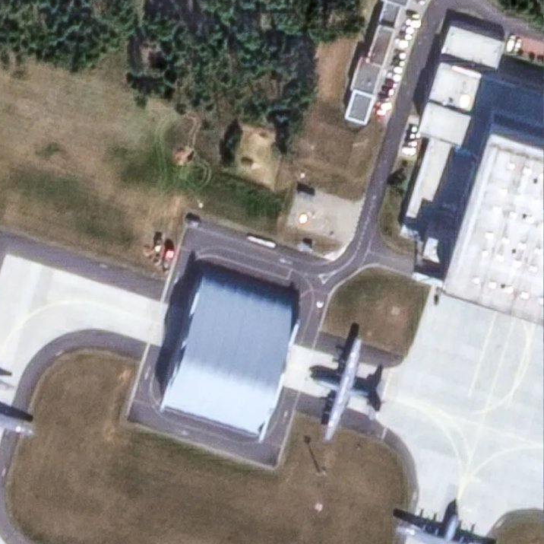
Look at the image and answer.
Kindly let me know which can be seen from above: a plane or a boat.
plane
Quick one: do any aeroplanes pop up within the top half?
No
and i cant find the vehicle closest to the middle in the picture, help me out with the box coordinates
[247,232,276,248]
